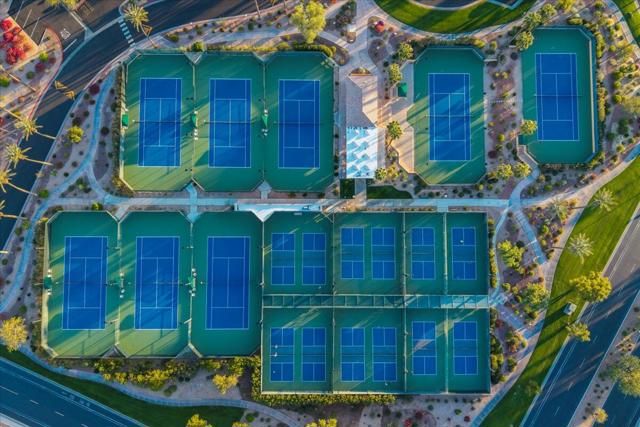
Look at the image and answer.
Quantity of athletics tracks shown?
0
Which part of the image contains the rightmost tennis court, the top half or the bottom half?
top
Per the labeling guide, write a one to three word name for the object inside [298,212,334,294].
sports court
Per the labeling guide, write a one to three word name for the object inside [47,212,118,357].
tennis court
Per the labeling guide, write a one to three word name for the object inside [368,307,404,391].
sports court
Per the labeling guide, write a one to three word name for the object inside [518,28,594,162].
tennis court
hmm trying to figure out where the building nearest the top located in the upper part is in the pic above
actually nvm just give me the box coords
[345,76,378,131]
